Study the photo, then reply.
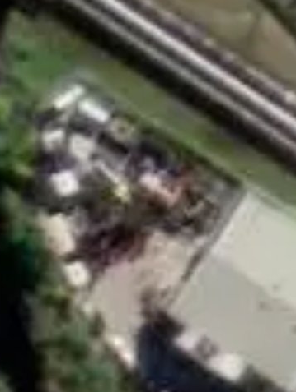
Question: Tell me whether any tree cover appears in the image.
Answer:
Yes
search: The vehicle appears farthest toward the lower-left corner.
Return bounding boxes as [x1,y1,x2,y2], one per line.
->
[64,261,90,286]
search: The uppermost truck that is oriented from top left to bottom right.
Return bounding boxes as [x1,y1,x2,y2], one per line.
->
[75,95,113,127]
